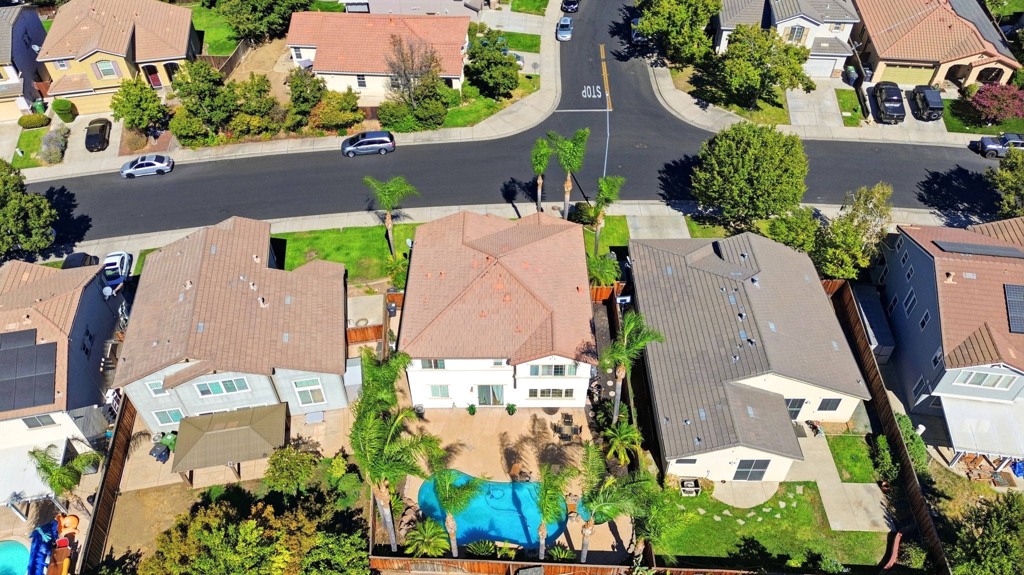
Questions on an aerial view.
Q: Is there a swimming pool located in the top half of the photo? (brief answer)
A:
No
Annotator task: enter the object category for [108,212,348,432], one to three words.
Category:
house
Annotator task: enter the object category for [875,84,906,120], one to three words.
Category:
vehicle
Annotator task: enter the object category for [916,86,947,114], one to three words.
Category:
car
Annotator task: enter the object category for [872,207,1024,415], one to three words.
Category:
house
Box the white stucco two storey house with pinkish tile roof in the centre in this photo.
[396,206,598,412]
